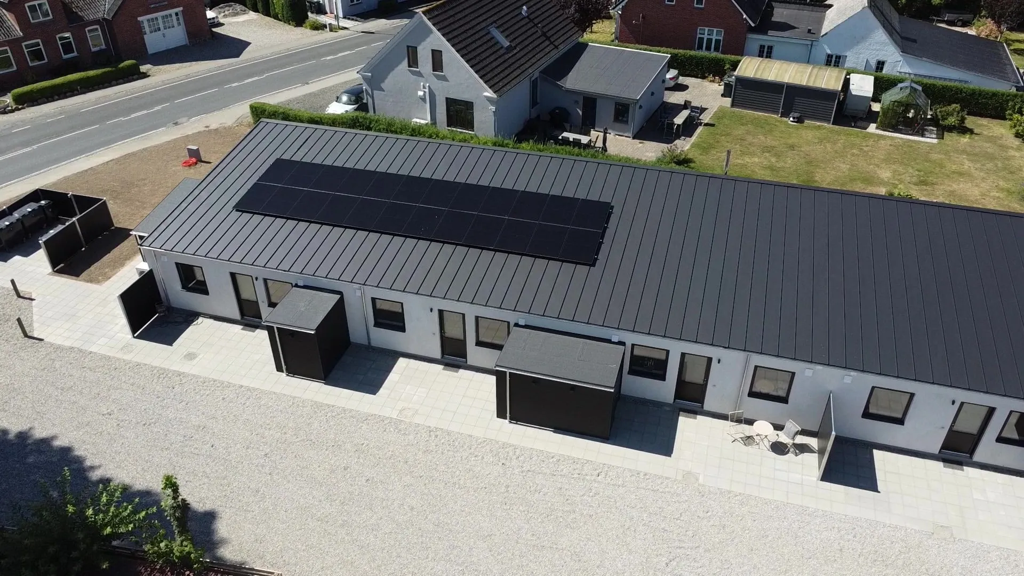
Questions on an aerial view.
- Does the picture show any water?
No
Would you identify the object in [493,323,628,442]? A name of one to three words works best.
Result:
shed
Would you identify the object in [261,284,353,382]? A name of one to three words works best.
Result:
shed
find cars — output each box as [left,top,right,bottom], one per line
[203,0,226,22]
[666,66,686,88]
[325,83,373,116]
